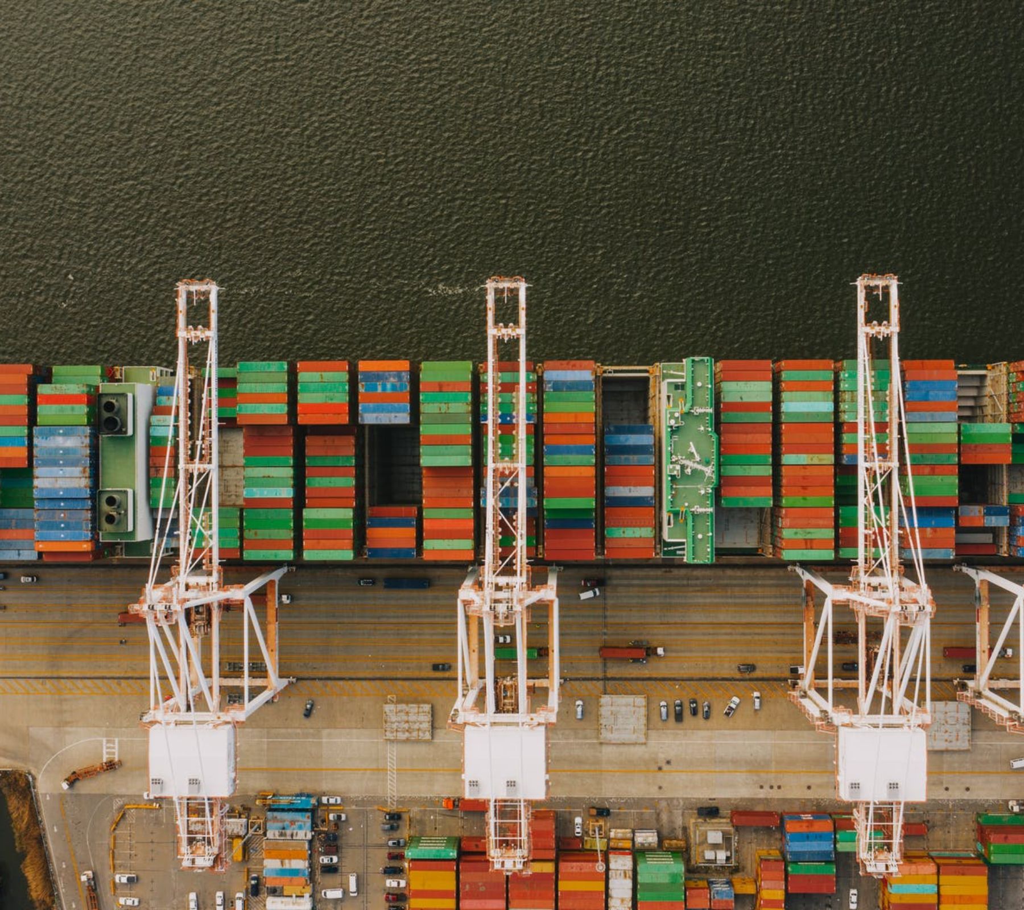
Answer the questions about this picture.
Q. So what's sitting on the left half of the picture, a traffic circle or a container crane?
container crane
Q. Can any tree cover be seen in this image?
No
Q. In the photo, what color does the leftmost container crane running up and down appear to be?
white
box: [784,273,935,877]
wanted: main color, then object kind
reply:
white container crane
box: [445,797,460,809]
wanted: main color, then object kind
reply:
orange vehicle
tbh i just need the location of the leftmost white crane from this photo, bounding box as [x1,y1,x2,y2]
[129,275,293,872]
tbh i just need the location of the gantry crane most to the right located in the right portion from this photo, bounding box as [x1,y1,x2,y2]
[954,570,1024,738]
